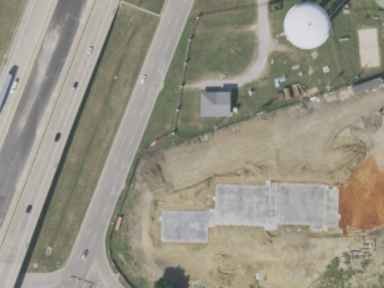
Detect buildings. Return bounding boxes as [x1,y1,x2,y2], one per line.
[200,92,232,118]
[346,78,384,96]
